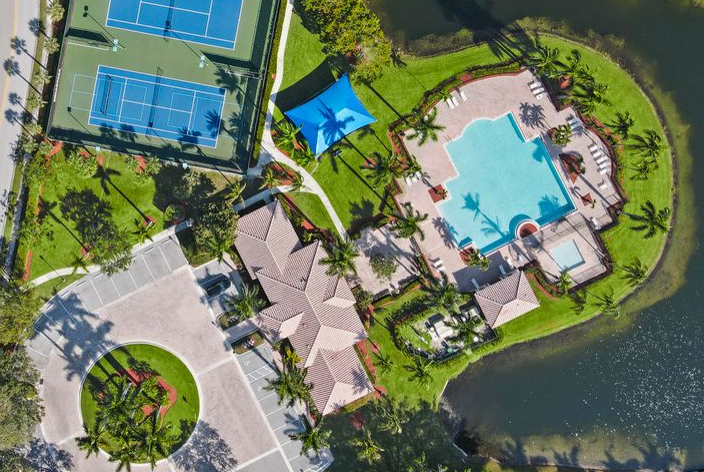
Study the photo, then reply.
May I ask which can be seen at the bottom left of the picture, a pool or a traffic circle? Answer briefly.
traffic circle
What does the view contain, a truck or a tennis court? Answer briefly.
tennis court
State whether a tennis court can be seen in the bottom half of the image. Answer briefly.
No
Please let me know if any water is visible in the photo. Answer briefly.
Yes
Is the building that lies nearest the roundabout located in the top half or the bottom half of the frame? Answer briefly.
bottom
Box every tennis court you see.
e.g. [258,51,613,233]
[69,0,278,75]
[53,40,264,172]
